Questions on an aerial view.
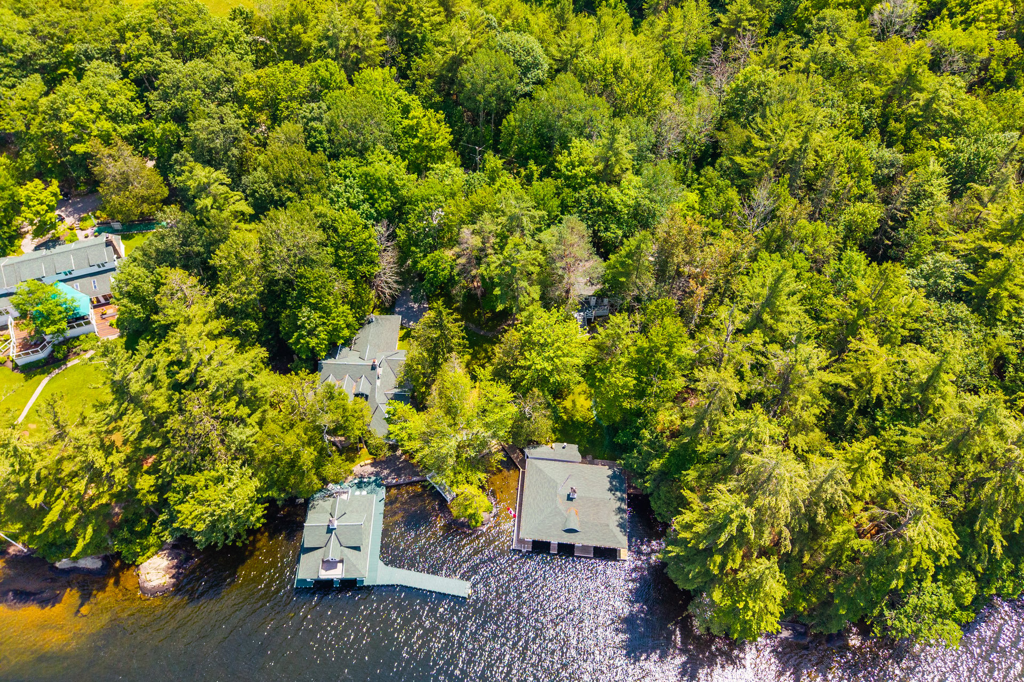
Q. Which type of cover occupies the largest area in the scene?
trees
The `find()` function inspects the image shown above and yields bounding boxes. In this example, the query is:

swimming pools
[89,220,168,235]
